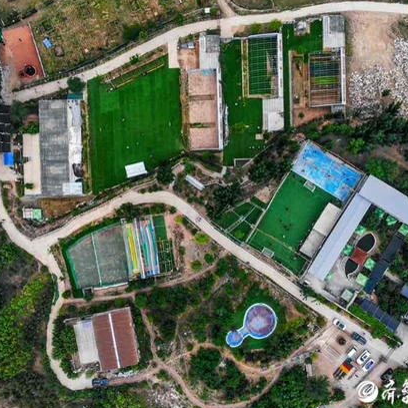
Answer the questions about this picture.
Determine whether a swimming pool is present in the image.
Yes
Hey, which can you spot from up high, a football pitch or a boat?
football pitch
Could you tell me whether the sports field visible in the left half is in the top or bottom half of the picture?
top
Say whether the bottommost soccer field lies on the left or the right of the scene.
right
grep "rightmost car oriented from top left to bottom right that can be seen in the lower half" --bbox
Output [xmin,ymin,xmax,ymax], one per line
[351,331,368,345]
